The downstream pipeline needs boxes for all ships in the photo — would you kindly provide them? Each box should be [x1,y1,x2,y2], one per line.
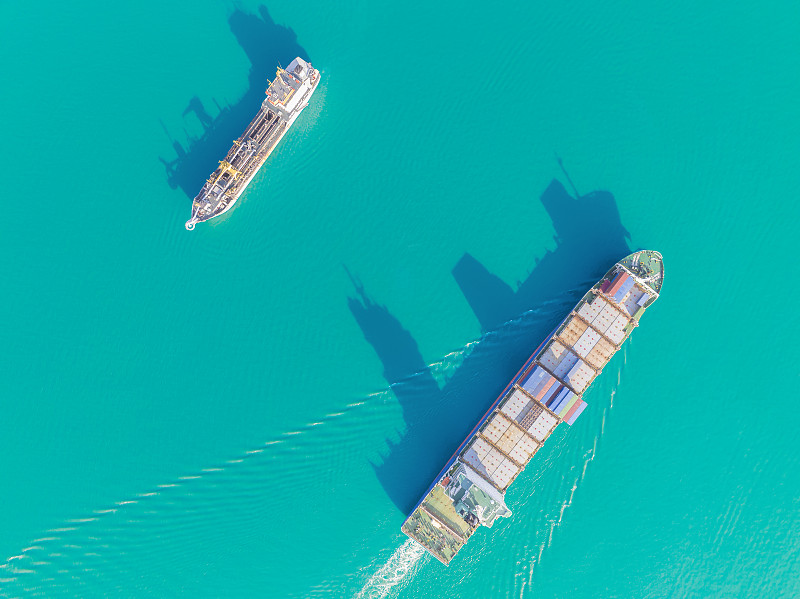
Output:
[401,250,665,565]
[187,55,322,229]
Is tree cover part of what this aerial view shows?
No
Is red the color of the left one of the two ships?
No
